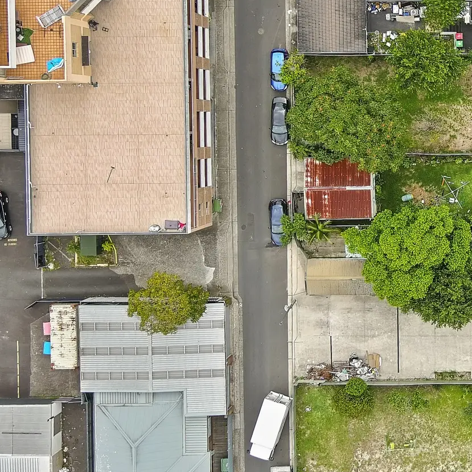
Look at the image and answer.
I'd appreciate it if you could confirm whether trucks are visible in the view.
Yes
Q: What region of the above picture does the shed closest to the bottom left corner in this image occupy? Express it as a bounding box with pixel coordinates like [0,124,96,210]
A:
[0,397,66,472]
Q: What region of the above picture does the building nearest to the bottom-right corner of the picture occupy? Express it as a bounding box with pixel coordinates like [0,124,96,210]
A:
[304,257,379,297]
